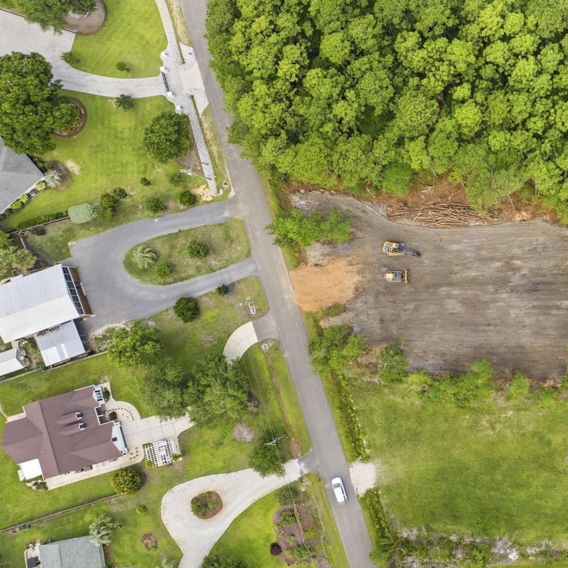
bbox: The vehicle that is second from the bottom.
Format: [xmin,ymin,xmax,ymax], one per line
[388,269,409,285]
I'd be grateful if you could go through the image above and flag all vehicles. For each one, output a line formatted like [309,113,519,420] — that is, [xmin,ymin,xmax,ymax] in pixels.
[385,241,421,257]
[330,475,347,505]
[388,269,409,285]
